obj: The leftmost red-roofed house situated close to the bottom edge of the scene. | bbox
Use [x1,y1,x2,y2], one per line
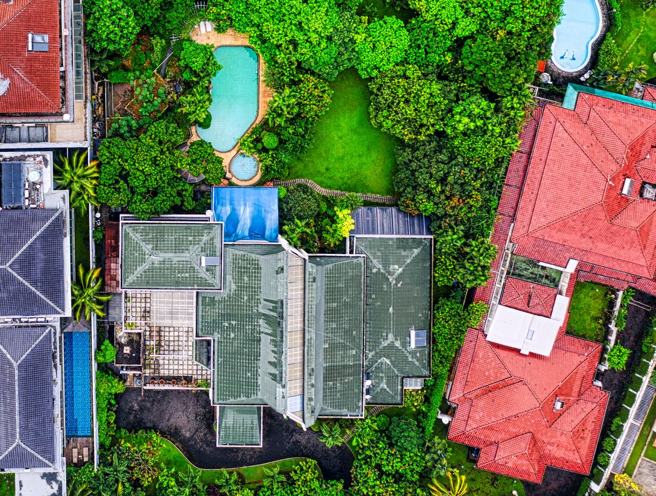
[445,327,611,485]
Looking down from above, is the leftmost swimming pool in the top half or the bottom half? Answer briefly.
bottom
